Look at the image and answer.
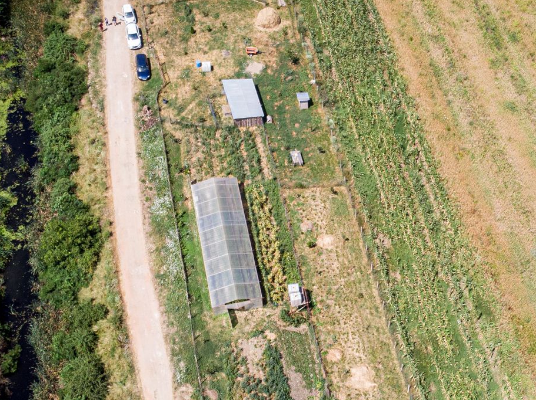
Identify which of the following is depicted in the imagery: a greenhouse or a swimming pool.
greenhouse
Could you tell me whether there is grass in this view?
Yes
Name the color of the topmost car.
white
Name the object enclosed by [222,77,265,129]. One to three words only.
shed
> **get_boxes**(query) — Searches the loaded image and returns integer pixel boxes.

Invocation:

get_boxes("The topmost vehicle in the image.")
[117,0,137,23]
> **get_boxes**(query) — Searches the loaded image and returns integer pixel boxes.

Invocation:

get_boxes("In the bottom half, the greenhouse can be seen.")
[191,175,262,315]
